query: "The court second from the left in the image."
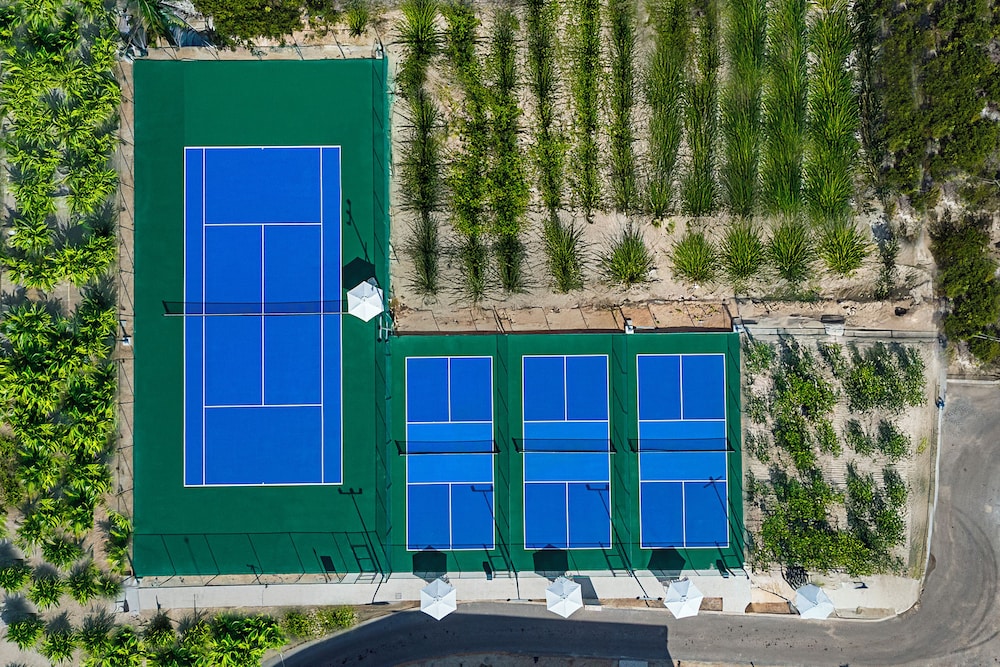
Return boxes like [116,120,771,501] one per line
[392,334,512,573]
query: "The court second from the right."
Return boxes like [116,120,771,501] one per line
[508,334,629,572]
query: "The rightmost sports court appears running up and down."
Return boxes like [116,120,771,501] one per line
[623,333,746,571]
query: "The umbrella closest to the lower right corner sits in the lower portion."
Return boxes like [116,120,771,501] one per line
[793,584,829,621]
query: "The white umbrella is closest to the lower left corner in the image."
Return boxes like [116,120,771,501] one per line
[421,578,455,617]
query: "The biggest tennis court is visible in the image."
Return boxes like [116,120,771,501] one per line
[134,59,389,577]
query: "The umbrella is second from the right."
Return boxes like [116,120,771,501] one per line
[664,579,702,617]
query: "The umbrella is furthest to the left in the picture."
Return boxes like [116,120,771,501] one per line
[348,280,384,319]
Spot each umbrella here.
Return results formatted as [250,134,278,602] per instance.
[793,584,829,621]
[421,578,455,617]
[348,280,384,319]
[664,579,702,617]
[546,576,582,615]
